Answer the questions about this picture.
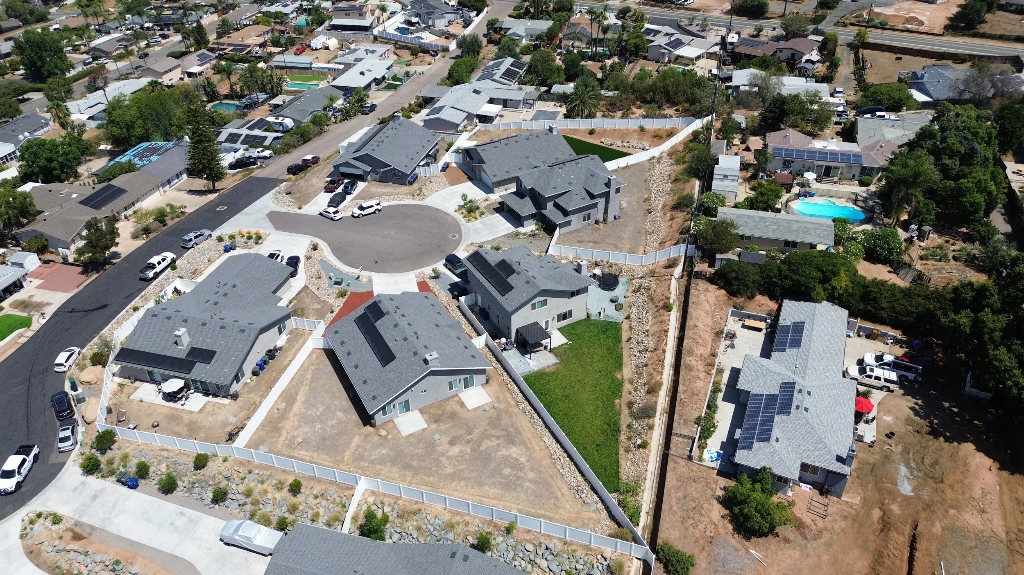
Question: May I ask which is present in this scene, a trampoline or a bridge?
trampoline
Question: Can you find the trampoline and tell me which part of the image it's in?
center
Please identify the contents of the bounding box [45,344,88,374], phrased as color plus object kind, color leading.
white car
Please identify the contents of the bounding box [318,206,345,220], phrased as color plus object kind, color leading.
white car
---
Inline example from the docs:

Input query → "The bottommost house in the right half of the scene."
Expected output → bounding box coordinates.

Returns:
[733,297,861,497]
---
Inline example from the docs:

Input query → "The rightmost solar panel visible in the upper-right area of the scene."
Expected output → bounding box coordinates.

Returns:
[774,148,863,160]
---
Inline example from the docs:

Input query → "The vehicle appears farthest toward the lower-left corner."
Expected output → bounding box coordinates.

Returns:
[0,444,48,499]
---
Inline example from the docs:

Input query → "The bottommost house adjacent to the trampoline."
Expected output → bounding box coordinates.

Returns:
[460,242,595,349]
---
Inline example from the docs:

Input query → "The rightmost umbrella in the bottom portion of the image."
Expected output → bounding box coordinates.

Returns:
[860,399,883,415]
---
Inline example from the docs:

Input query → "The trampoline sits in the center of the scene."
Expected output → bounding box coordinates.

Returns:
[599,269,623,295]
